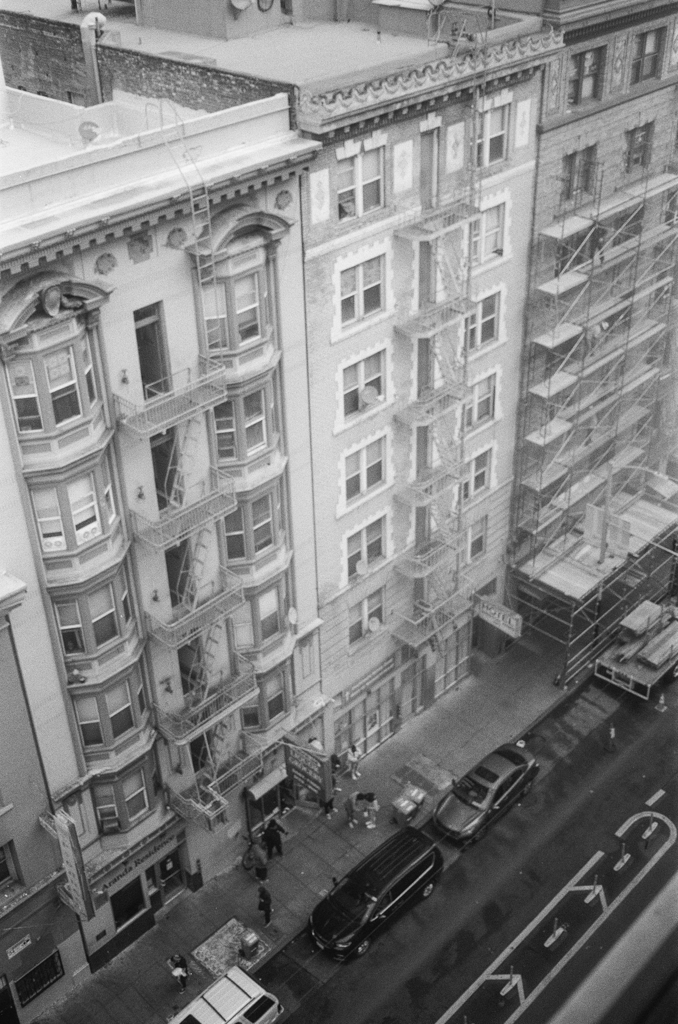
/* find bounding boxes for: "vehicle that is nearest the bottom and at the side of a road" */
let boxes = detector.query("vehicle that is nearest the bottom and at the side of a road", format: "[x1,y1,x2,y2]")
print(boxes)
[166,959,286,1024]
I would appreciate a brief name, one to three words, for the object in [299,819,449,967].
car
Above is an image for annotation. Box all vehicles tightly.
[596,593,678,703]
[299,819,449,967]
[166,959,286,1024]
[430,733,552,844]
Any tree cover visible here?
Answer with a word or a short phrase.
No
